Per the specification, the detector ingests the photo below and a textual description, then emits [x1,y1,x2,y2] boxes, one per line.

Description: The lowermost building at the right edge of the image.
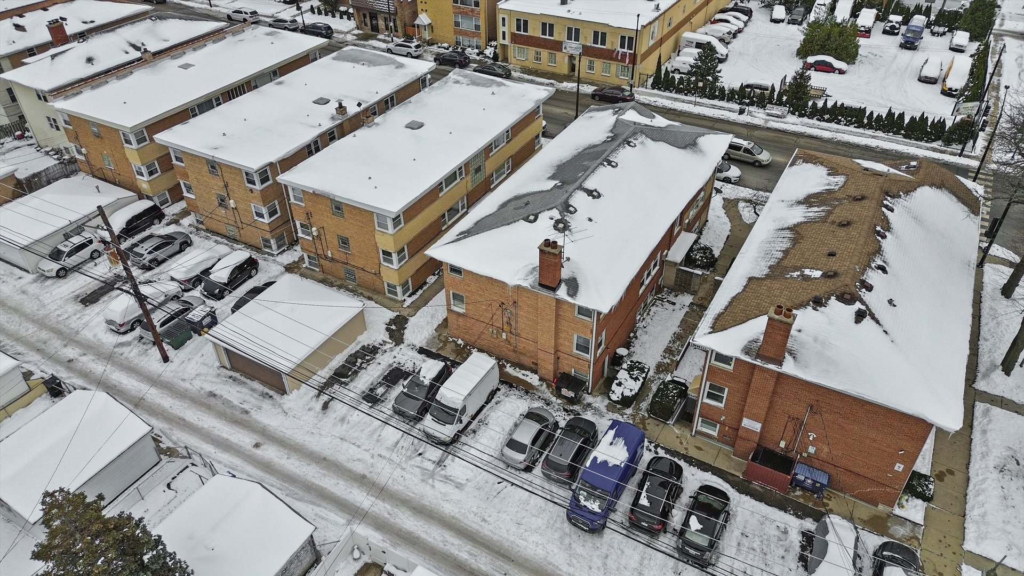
[690,147,981,508]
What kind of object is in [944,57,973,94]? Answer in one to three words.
van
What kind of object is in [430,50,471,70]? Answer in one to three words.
car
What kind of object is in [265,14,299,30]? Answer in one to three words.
car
